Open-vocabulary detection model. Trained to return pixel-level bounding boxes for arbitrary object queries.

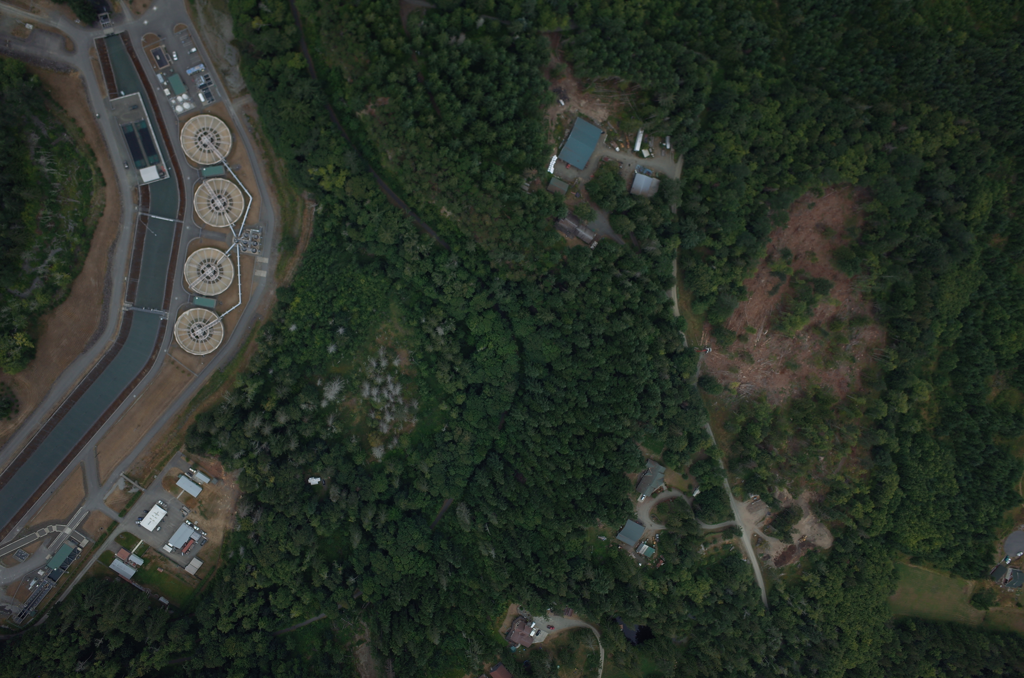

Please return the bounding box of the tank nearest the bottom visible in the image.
[174,307,226,356]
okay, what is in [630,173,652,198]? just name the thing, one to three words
barn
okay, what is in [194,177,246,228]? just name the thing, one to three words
storage tank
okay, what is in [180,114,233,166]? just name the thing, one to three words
storage tank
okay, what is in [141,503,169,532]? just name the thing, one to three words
building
